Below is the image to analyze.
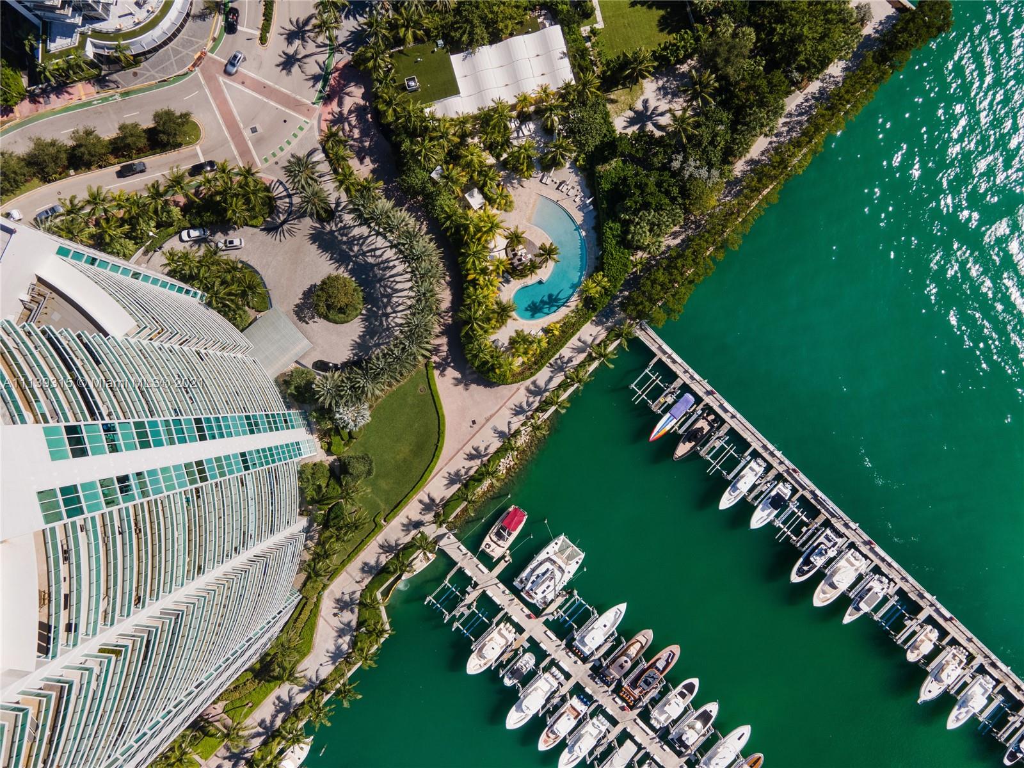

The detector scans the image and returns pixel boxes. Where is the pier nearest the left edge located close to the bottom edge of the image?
[436,527,749,768]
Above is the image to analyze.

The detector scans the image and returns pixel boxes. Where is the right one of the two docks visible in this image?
[632,320,1024,740]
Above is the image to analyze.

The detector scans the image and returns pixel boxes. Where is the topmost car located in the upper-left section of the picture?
[225,7,239,35]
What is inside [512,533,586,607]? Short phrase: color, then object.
white boat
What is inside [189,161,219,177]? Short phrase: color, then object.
black car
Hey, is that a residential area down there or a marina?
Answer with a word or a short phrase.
marina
